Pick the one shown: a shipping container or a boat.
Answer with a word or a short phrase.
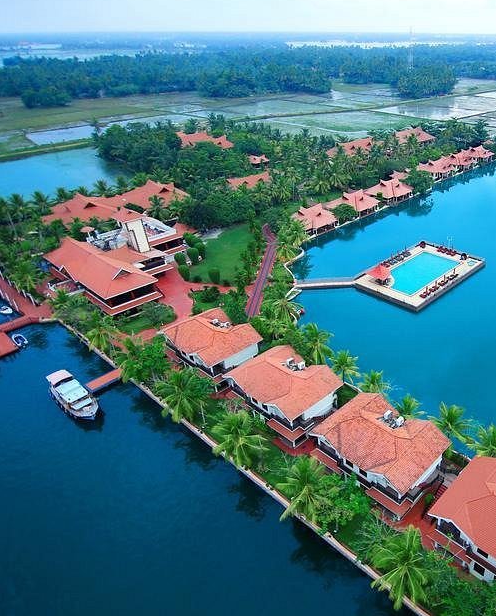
boat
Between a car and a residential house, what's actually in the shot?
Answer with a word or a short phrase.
residential house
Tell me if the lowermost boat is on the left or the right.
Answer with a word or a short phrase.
left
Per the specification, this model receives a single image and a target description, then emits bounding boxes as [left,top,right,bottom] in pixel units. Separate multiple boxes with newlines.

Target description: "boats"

[0,307,14,314]
[43,369,100,421]
[8,333,24,343]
